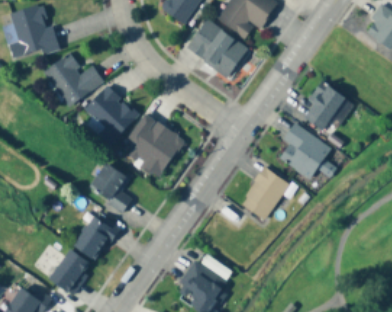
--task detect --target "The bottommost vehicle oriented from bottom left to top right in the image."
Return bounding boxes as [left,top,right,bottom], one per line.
[113,281,126,297]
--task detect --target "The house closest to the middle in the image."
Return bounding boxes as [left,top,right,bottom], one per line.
[128,115,187,177]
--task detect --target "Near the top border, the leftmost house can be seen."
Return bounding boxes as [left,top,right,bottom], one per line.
[10,4,61,58]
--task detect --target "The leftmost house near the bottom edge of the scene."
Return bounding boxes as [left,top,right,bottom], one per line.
[6,288,48,312]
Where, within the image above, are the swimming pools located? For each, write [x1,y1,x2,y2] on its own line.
[74,196,88,209]
[274,208,286,222]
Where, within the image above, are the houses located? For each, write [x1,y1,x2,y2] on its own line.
[306,82,346,126]
[128,115,187,177]
[368,3,392,46]
[277,124,332,178]
[6,288,48,312]
[188,18,249,76]
[90,162,135,215]
[49,249,89,292]
[44,52,102,104]
[74,213,118,260]
[10,4,61,58]
[164,0,202,25]
[83,84,139,133]
[216,0,278,36]
[179,258,222,312]
[242,167,290,220]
